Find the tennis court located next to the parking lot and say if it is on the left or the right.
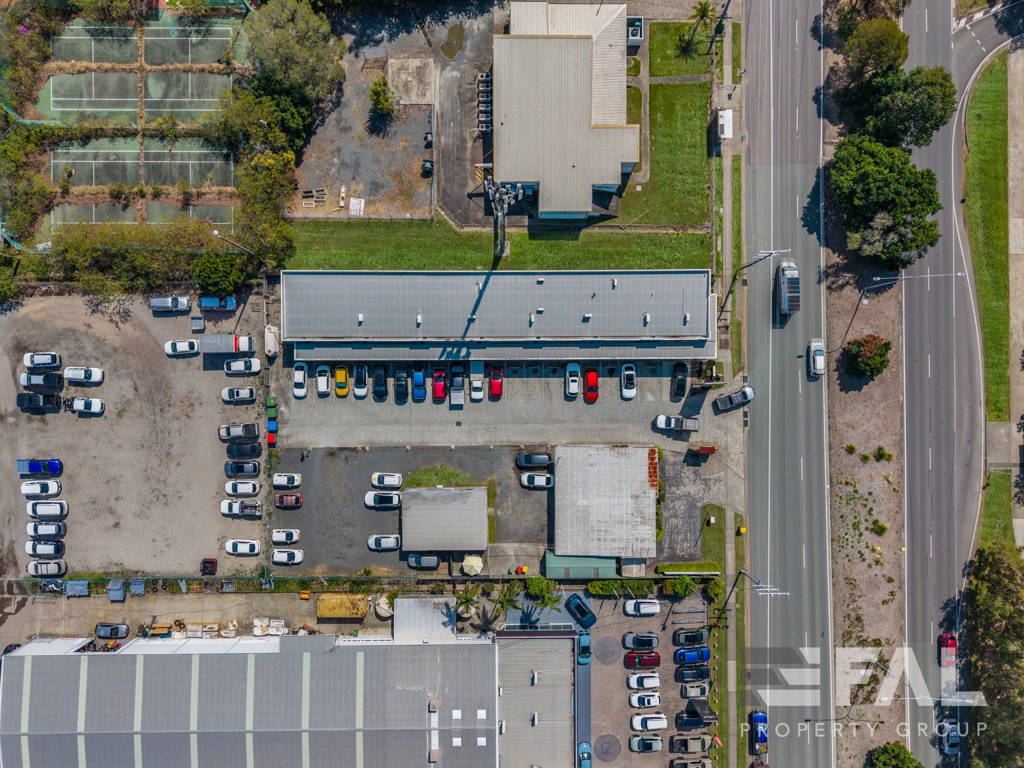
left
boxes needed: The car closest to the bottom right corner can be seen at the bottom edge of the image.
[940,718,961,755]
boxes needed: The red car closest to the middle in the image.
[488,365,505,400]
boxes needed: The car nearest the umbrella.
[407,552,442,570]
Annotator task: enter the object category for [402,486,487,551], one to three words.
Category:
building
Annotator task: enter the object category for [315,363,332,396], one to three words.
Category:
car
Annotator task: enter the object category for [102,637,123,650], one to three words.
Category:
vehicle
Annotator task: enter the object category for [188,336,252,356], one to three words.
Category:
vehicle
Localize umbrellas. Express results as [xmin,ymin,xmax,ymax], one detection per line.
[462,554,484,576]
